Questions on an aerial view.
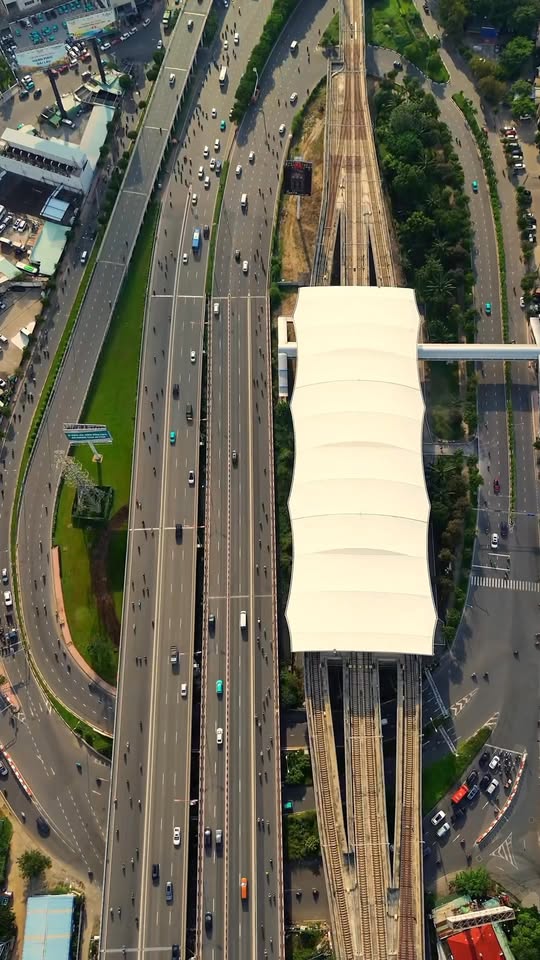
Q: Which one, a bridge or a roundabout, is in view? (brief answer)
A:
bridge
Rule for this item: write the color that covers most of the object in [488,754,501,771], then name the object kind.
white vehicle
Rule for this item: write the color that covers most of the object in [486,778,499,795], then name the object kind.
white vehicle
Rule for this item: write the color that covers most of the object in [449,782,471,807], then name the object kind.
red truck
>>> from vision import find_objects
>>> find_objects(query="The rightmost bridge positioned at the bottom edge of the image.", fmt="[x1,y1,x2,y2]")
[304,652,426,960]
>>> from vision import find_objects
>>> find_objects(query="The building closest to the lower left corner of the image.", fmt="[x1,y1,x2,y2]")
[22,891,82,960]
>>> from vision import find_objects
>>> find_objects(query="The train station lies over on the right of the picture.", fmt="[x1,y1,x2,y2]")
[278,280,438,654]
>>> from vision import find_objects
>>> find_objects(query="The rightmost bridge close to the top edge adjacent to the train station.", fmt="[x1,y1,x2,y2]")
[310,0,397,286]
